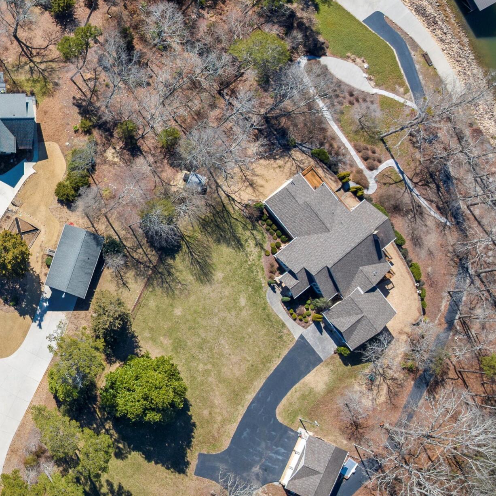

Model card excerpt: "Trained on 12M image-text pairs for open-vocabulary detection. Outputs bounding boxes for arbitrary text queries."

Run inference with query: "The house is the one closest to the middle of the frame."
[263,163,398,350]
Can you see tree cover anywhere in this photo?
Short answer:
Yes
